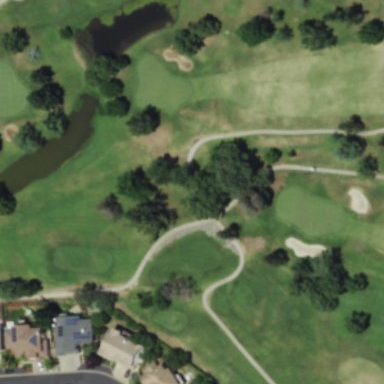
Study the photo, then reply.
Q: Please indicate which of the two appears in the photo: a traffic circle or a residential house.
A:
residential house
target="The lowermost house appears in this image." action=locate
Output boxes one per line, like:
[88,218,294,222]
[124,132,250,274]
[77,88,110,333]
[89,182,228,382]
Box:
[138,358,184,384]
